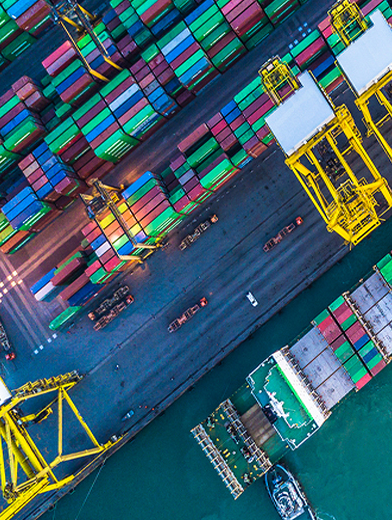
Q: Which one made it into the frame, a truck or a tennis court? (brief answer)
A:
truck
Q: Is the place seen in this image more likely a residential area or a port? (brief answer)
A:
port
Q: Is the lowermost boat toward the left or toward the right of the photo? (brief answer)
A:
right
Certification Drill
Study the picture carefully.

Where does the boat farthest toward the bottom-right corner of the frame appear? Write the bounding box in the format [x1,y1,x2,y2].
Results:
[266,462,314,520]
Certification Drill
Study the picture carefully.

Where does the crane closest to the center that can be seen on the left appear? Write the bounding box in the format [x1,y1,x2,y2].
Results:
[75,173,161,267]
